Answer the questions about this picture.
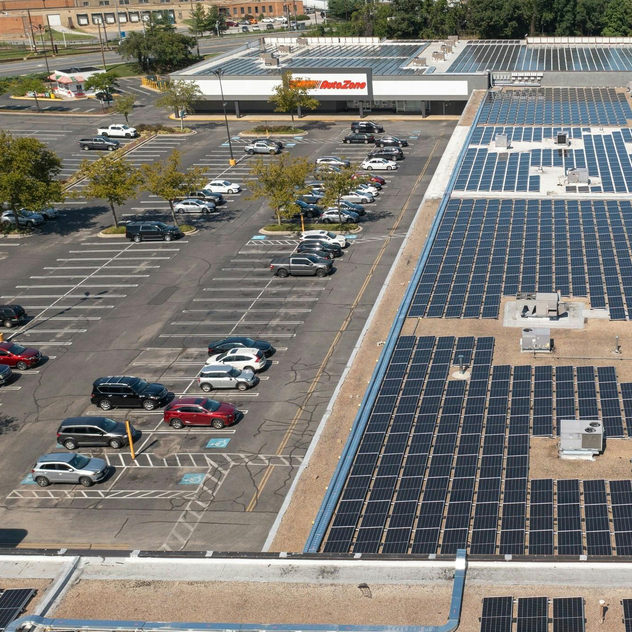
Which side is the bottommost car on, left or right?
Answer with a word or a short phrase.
left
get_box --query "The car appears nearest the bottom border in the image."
[26,447,120,486]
